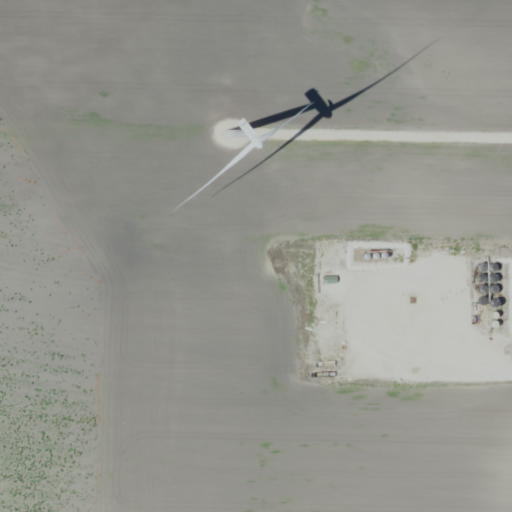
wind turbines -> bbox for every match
[172,100,317,213]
